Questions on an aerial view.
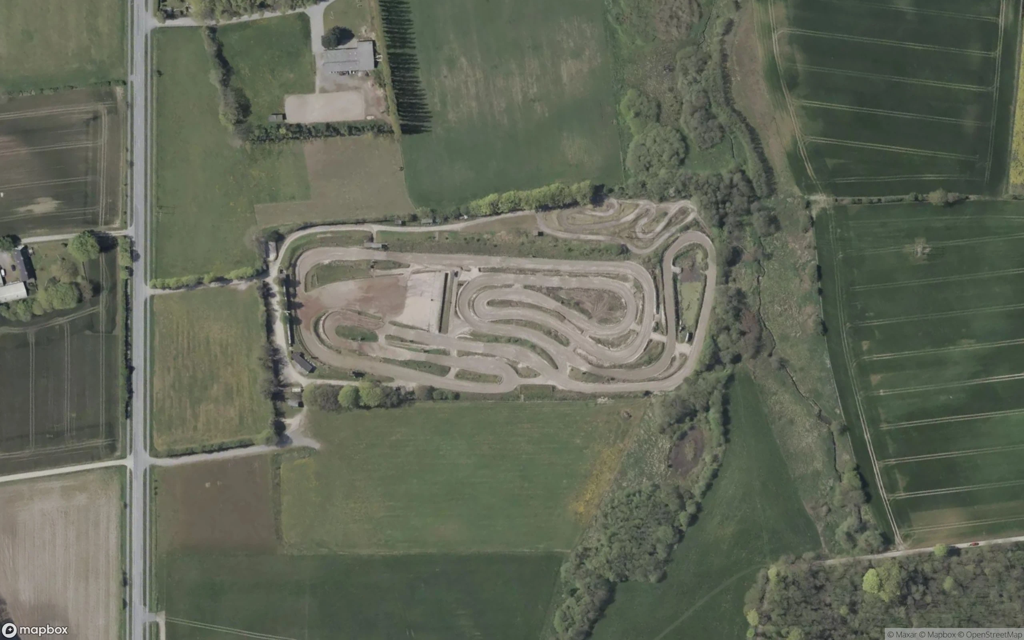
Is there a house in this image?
Yes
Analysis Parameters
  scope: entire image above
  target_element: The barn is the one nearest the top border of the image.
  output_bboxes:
[322,40,374,71]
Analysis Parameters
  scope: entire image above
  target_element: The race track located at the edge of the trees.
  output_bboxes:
[296,231,701,393]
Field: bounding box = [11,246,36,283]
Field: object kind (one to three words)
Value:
house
